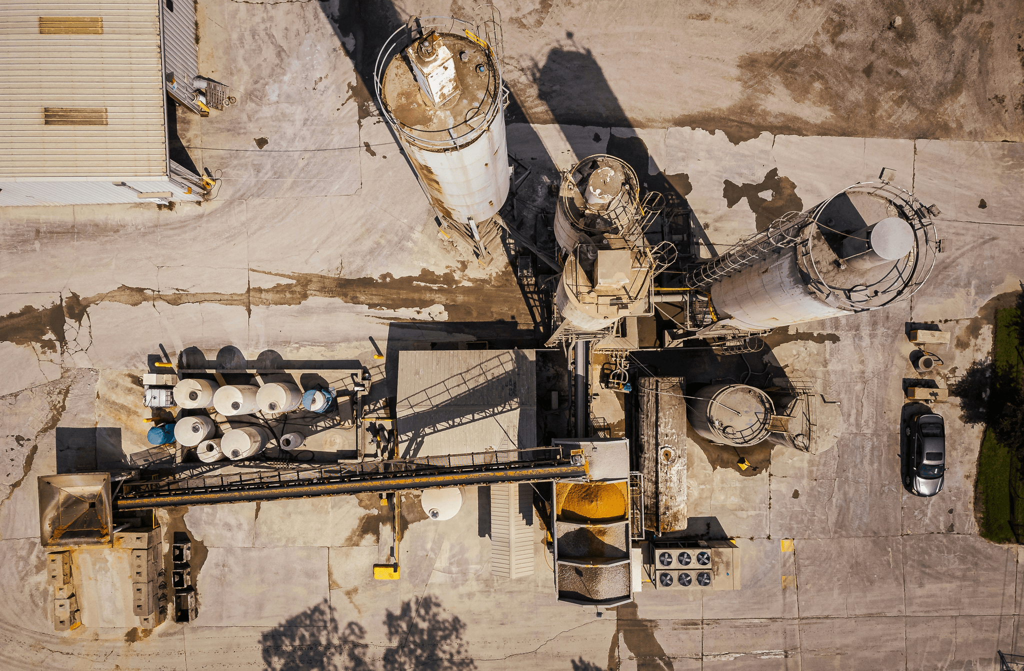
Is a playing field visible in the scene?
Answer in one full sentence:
No, I find no playing field anywhere in the image.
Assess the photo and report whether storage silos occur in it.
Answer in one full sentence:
Yes, you can see a storage silo in this photo.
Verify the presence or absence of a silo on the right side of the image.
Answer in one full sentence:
Yes, you'll find a silo on the right side of the image.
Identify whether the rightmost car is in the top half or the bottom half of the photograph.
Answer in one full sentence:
The rightmost car is in the bottom half of the image.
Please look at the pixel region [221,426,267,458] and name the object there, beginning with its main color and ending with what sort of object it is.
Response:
white storage tank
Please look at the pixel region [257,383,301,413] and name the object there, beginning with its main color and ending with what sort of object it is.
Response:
white storage tank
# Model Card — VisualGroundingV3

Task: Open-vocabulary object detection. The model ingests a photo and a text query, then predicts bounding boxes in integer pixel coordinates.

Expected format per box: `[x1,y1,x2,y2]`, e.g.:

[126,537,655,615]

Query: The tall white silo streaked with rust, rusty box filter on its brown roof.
[381,5,529,261]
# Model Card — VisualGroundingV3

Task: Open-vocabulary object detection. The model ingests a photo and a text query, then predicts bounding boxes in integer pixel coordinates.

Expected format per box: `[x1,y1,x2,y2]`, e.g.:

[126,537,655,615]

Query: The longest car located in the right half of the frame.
[905,413,949,498]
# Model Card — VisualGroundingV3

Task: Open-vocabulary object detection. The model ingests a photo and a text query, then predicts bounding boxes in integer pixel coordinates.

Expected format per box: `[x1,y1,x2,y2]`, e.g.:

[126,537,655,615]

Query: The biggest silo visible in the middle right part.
[670,180,940,371]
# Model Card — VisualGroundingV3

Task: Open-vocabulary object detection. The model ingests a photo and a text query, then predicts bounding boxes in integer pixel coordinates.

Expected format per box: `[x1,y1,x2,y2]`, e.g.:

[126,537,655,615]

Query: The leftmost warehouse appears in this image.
[0,0,204,199]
